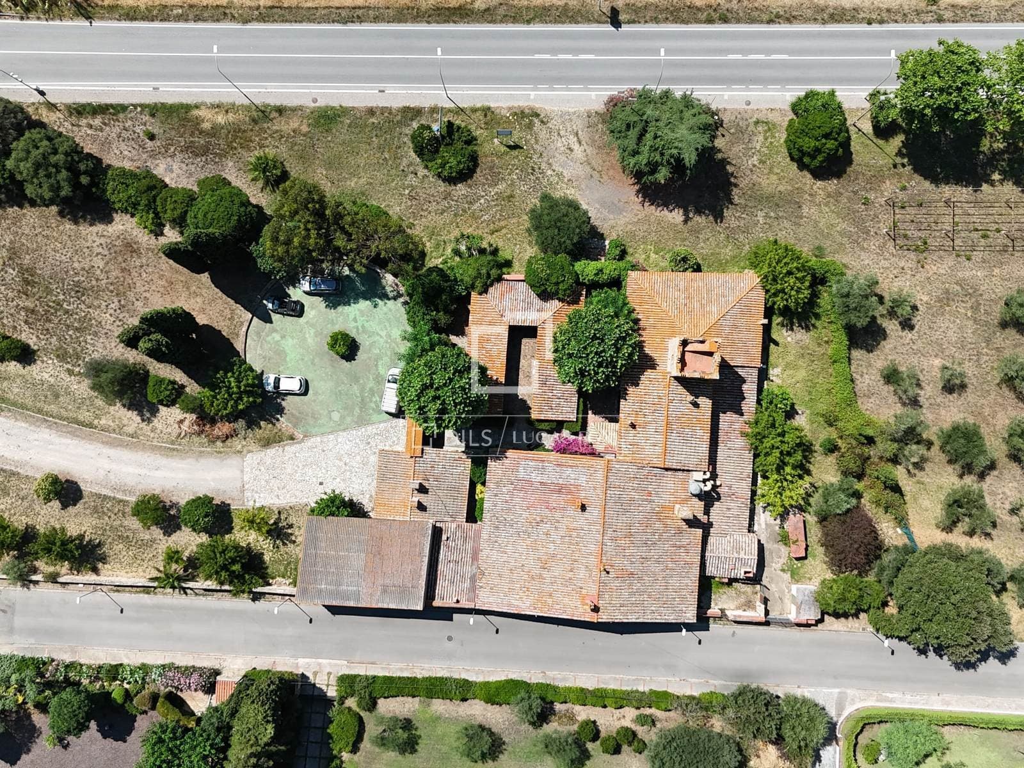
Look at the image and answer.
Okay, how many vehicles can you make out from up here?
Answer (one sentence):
In total, there are 4 vehicles in the scene.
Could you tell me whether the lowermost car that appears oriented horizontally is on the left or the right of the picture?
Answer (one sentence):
The lowermost car that appears oriented horizontally is on the left side of the image.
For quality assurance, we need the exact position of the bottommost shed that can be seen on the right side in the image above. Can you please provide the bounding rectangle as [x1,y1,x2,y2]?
[787,580,820,623]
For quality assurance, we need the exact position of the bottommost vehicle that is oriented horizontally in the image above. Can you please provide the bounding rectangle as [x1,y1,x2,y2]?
[264,373,306,394]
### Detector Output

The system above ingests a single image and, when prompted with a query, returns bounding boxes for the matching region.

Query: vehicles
[266,295,305,319]
[300,276,340,297]
[379,368,402,415]
[264,373,306,394]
